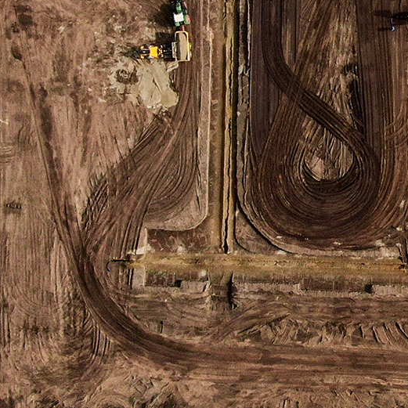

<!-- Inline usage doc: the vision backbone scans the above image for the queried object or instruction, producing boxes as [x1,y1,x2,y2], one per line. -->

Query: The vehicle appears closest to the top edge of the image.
[172,0,190,26]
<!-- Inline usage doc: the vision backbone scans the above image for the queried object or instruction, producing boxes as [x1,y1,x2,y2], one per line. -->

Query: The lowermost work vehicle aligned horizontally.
[136,44,175,60]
